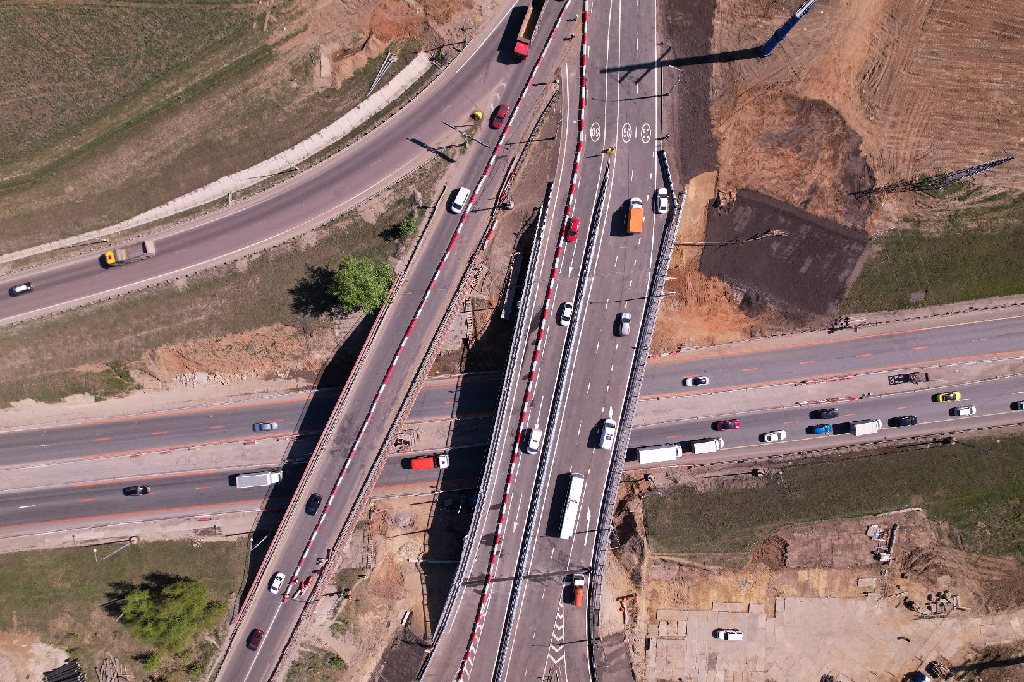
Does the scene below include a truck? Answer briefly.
Yes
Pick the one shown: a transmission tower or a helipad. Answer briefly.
transmission tower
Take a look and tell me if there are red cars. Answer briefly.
Yes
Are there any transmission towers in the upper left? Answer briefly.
No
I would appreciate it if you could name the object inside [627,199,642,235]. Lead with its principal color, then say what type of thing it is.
orange vehicle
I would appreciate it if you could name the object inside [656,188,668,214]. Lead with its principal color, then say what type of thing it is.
white vehicle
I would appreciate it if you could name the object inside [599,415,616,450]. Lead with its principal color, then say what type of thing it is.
white vehicle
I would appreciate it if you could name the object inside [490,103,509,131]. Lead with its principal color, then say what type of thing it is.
red car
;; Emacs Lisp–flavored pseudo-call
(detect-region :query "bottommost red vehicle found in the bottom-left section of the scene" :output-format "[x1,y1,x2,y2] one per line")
[248,626,264,650]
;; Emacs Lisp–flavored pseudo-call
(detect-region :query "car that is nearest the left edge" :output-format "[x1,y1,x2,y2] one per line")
[11,282,35,294]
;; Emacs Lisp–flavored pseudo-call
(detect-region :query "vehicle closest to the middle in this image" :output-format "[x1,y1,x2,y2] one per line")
[561,301,573,327]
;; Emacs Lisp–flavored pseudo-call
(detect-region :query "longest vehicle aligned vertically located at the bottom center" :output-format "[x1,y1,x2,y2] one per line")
[559,468,587,540]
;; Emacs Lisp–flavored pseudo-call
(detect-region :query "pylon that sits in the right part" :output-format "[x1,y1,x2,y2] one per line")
[932,152,1018,189]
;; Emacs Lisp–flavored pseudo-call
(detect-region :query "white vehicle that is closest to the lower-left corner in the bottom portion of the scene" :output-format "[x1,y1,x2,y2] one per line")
[269,569,286,595]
